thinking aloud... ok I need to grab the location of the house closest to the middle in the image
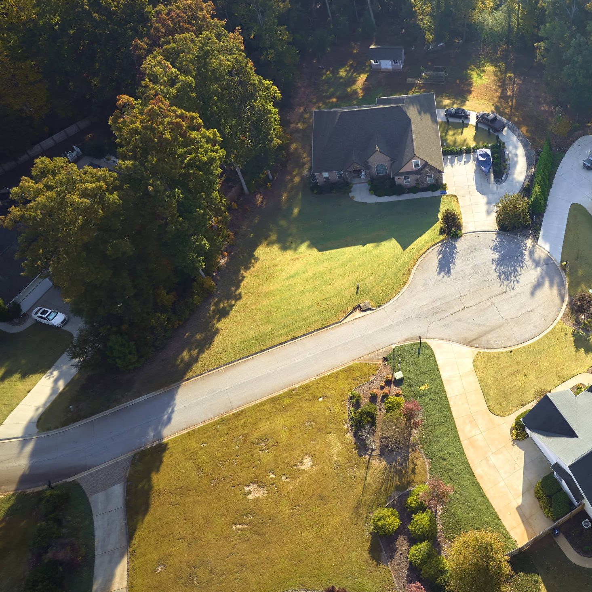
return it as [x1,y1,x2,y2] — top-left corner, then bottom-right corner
[309,92,443,186]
